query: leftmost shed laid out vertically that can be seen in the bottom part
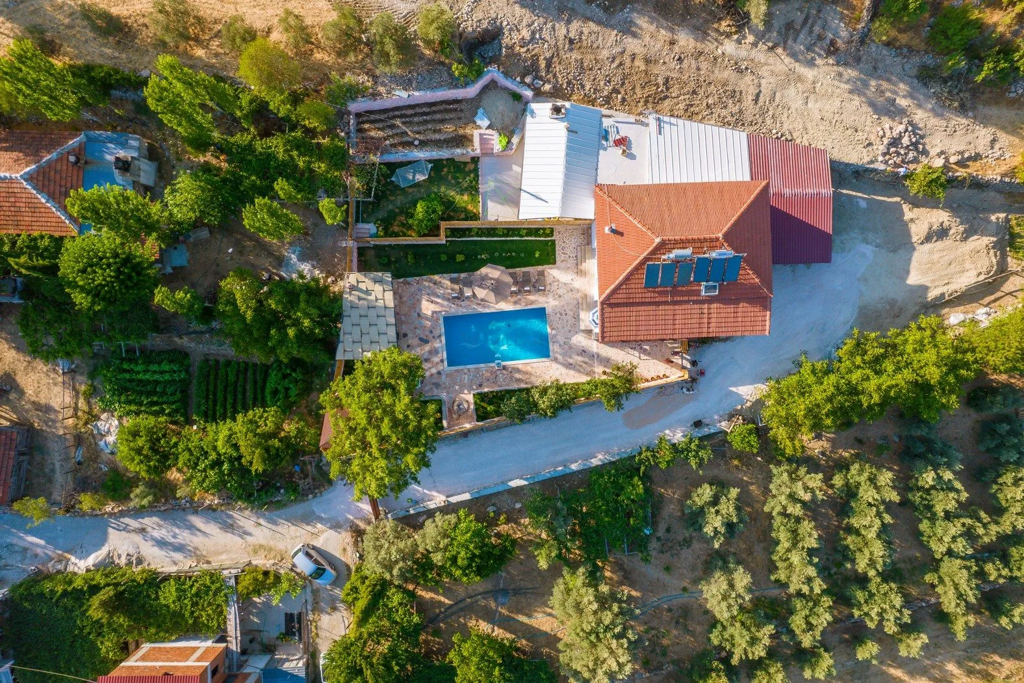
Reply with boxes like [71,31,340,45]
[0,425,38,507]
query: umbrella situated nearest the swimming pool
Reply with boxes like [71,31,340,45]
[472,263,513,304]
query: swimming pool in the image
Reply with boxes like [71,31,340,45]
[440,304,553,371]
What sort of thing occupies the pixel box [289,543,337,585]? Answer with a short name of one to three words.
car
